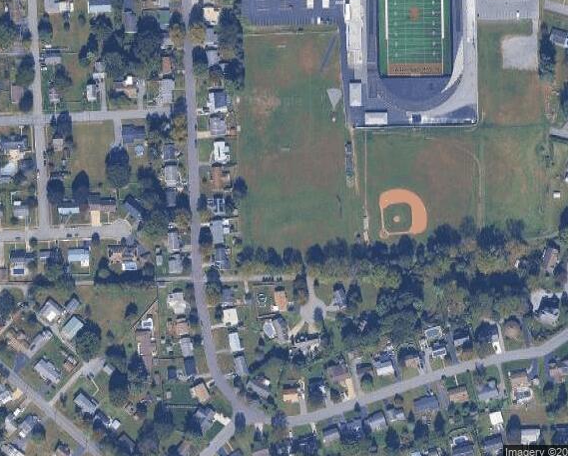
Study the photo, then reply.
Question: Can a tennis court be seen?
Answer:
No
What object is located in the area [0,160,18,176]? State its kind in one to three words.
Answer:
swimming pool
